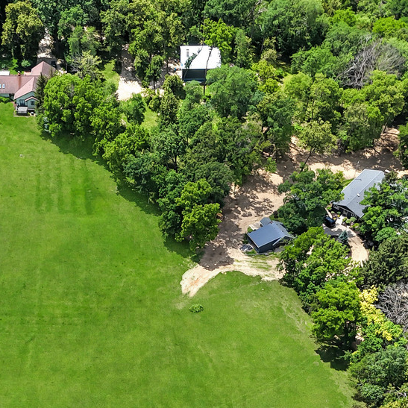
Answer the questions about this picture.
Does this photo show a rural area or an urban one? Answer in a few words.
rural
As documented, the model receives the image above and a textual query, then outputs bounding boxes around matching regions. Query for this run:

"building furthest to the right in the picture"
[334,169,388,220]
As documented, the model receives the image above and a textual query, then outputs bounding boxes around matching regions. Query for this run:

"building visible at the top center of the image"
[179,47,222,82]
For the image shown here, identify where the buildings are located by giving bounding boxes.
[179,47,222,82]
[246,220,289,254]
[0,61,57,113]
[334,169,388,220]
